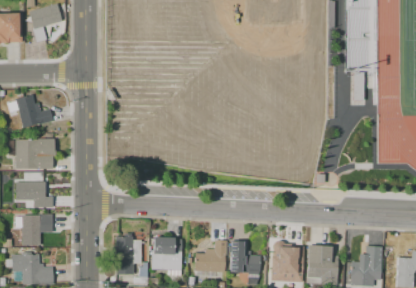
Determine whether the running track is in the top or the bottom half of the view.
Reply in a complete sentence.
The top half of the photo is where the running track is.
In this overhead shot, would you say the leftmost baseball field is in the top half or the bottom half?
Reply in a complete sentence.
You can find the leftmost baseball field in the top half.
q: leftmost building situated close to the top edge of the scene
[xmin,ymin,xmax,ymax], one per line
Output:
[0,12,22,43]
